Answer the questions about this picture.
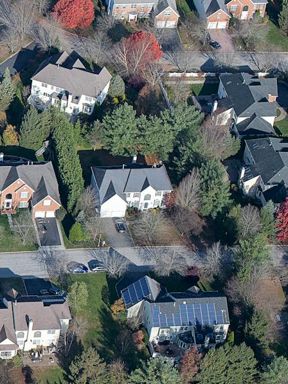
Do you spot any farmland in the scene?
No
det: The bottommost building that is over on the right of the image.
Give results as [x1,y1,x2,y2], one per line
[117,272,231,347]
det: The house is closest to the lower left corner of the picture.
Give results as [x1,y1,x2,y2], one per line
[0,285,72,359]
